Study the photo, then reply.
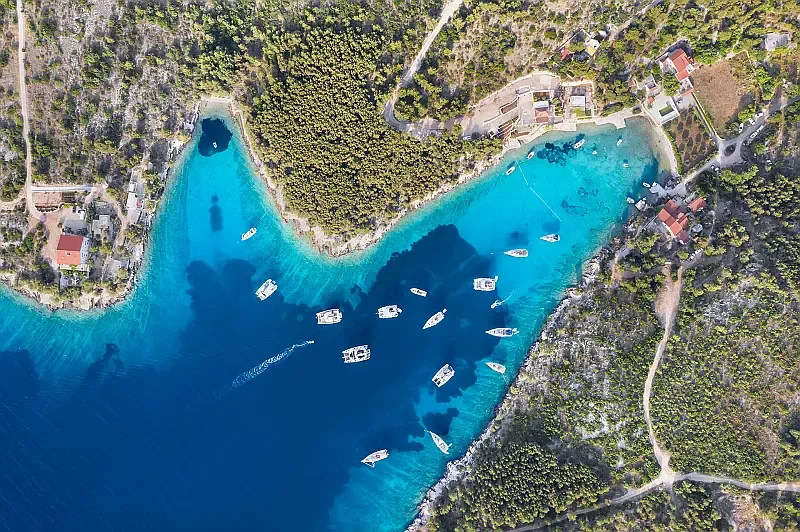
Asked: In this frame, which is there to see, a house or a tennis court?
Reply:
house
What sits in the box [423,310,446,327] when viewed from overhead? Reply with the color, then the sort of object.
white boat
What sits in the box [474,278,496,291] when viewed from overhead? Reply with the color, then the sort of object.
white boat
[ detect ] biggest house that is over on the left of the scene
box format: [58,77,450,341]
[54,235,89,264]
